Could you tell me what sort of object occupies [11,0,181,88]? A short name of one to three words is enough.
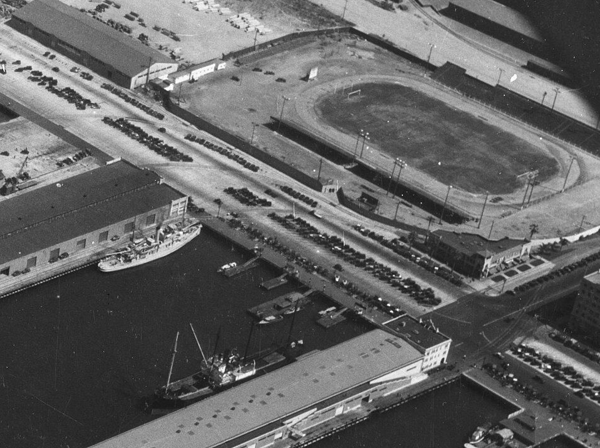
building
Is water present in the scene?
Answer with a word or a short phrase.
Yes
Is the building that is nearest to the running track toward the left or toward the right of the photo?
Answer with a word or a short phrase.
right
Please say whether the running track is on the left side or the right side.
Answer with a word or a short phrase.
right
